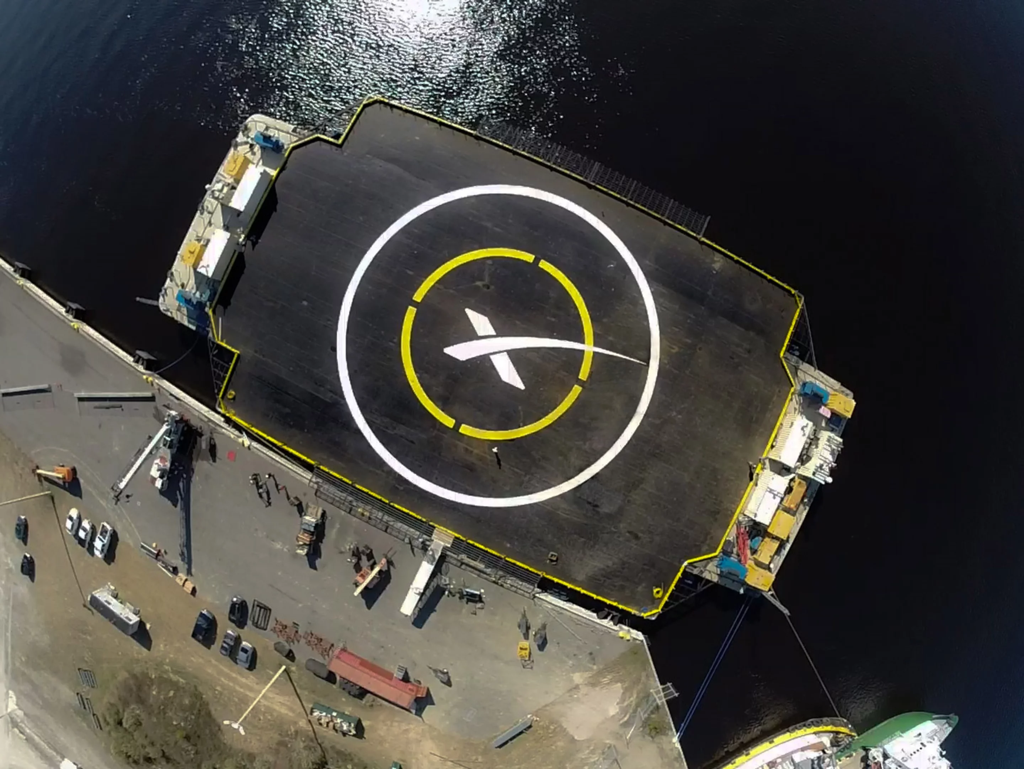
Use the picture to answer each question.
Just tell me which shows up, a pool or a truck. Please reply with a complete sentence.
The image shows a truck.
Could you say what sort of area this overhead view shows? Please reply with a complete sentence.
This looks like a port.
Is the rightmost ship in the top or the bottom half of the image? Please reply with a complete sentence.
Seen from above, the rightmost ship lies in the bottom half of the view.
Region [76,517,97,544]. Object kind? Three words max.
car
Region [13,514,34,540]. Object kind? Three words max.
car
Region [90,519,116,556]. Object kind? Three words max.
truck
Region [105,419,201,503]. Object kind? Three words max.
truck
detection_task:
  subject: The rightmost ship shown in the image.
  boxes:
[821,711,960,769]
